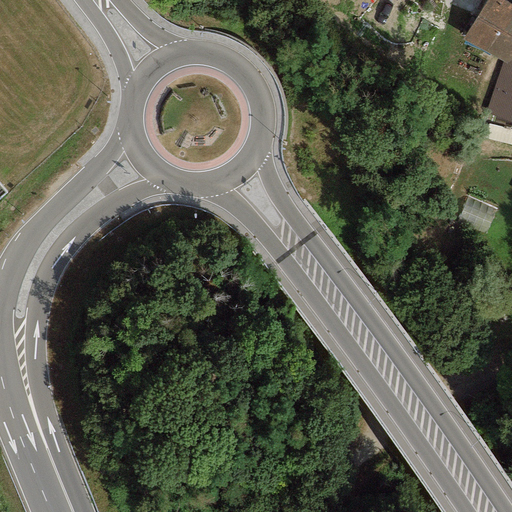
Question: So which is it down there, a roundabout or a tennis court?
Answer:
roundabout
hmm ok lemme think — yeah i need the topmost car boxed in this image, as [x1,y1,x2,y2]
[380,2,394,22]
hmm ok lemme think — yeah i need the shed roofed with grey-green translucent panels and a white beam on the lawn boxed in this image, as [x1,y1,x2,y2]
[460,194,498,232]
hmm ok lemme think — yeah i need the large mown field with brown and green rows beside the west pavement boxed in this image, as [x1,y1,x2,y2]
[0,0,98,189]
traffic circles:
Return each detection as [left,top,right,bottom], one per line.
[122,42,274,194]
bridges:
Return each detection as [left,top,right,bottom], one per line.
[258,198,512,512]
